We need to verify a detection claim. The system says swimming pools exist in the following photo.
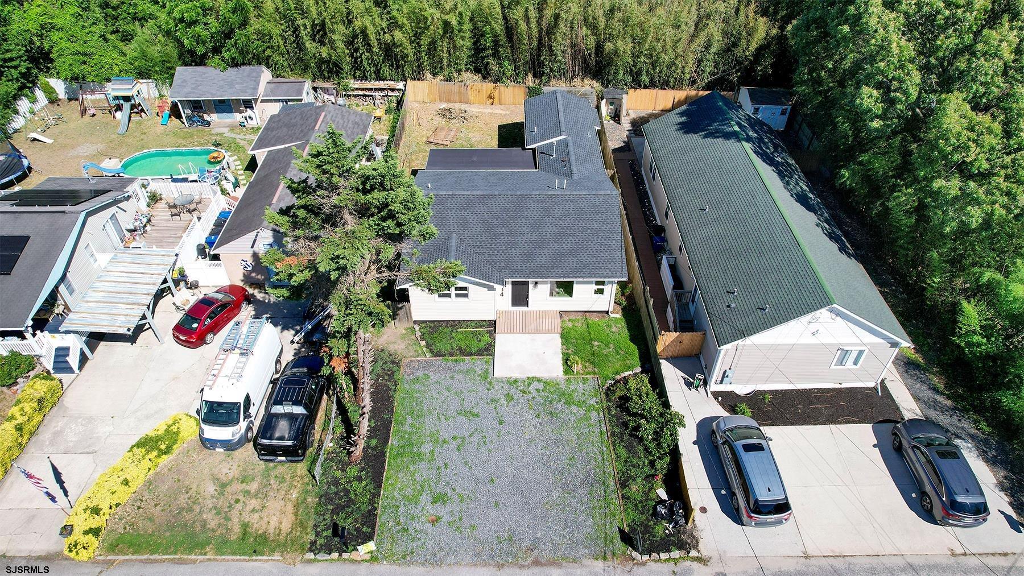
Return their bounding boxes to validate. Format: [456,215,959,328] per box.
[118,147,239,193]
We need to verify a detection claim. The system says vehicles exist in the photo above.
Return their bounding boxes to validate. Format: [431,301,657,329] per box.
[717,420,792,531]
[894,421,987,531]
[190,322,281,454]
[163,284,253,353]
[254,356,329,465]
